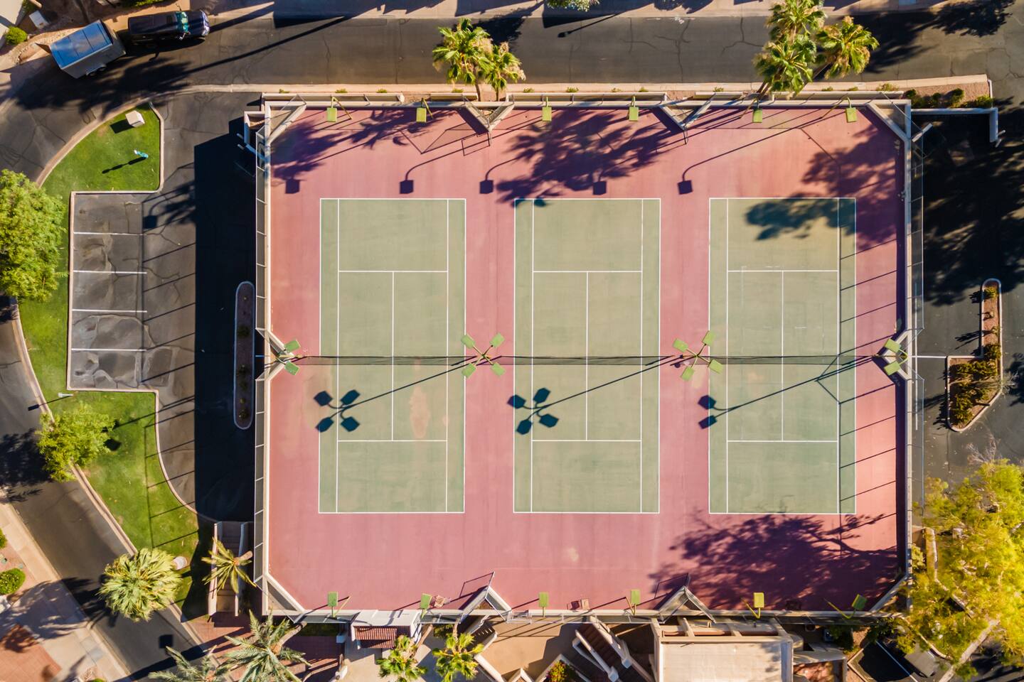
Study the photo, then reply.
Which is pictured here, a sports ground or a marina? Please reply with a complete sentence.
The area seen from above is a sports ground.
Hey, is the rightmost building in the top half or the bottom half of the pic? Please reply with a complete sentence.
You can find the rightmost building in the bottom half.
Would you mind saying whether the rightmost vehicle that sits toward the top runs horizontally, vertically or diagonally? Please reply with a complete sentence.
The rightmost vehicle that sits toward the top is laid out horizontally.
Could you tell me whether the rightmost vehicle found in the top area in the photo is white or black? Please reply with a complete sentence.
In this view, the rightmost vehicle found in the top area is black.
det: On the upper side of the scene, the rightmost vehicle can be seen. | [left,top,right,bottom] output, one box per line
[131,10,211,47]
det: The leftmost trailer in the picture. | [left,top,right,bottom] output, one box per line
[41,19,129,76]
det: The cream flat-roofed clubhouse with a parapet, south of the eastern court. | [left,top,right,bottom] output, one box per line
[648,615,792,682]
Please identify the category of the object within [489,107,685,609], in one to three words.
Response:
tennis court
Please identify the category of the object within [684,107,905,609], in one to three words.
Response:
tennis court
